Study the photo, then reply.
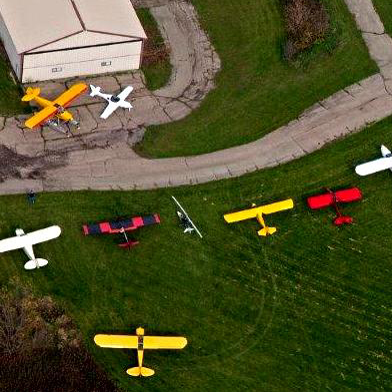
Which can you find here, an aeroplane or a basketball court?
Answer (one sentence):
Of the two, only an aeroplane appears.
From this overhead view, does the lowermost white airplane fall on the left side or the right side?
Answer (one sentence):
The lowermost white airplane appears in the left half of the scene.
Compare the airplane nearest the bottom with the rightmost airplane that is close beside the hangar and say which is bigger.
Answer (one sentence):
The airplane nearest the bottom covers a greater area than the rightmost airplane that is close beside the hangar.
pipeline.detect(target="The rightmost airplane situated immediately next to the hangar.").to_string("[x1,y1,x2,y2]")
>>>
[86,81,136,117]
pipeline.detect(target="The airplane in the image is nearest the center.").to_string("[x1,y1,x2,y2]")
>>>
[223,201,295,235]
